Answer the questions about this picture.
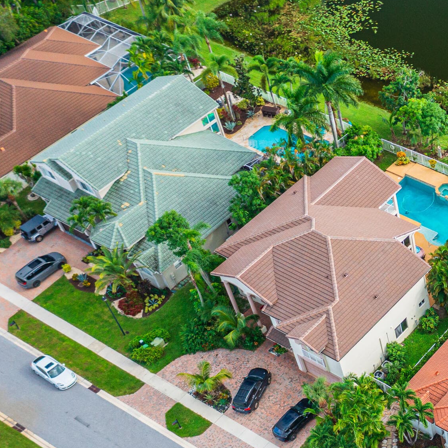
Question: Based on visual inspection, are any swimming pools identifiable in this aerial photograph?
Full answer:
Yes, I can see a swimming pool in this picture.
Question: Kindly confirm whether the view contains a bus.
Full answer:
No, I can see no bus in this picture.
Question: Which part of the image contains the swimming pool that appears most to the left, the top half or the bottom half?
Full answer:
You can find the swimming pool that appears most to the left in the top half.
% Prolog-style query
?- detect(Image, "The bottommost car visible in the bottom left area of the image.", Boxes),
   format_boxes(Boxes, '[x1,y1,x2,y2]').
[28,357,81,393]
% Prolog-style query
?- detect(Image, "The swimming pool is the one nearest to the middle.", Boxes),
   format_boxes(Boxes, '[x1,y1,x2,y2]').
[246,123,334,160]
